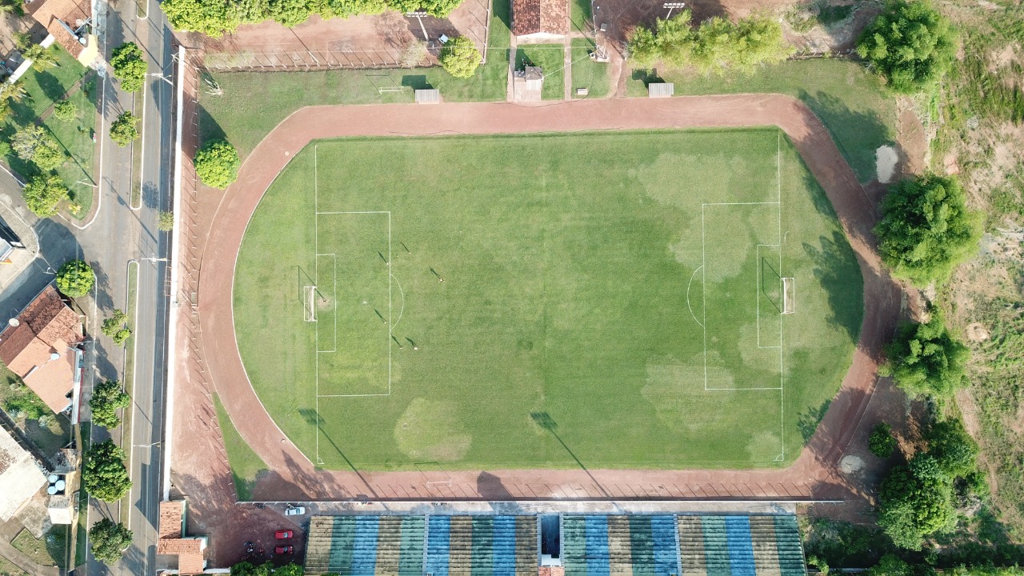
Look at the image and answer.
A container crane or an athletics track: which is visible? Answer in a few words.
athletics track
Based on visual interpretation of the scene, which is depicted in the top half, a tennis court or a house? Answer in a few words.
house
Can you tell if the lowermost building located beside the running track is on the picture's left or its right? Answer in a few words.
left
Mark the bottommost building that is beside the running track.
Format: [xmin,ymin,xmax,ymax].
[157,498,209,574]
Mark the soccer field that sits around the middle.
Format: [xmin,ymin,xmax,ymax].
[232,126,863,471]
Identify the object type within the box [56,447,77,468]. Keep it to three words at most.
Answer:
shed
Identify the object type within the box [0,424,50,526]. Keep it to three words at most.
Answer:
house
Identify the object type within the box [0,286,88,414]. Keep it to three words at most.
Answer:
house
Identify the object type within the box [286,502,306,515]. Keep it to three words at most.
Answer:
vehicle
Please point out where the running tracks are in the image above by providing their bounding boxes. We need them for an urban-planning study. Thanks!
[198,93,901,502]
